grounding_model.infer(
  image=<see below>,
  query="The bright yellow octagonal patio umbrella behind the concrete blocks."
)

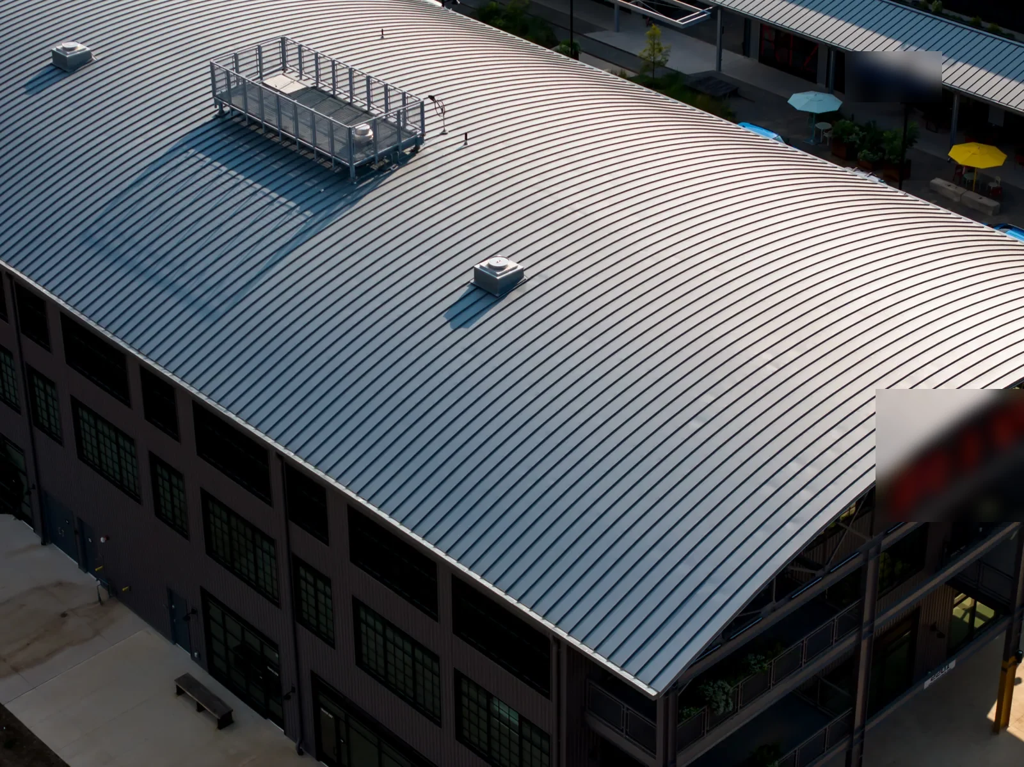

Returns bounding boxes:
[949,145,1007,196]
